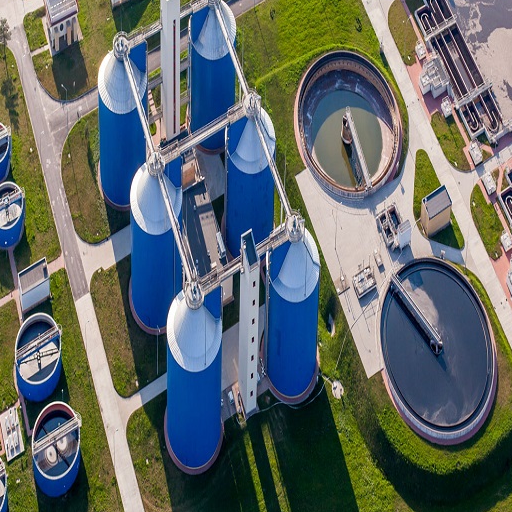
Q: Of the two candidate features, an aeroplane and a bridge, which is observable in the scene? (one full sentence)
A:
The one in the frame is a bridge.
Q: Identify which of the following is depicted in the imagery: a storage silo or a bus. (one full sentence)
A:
The one in the frame is a storage silo.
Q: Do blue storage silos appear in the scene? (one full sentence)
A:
Yes, a blue storage silo appears in the view.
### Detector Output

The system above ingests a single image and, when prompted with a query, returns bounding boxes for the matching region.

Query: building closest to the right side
[416,183,452,240]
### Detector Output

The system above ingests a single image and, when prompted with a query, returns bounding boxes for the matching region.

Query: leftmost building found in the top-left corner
[42,0,82,56]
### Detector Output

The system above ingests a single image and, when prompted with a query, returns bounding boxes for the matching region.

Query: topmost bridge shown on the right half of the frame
[344,100,375,195]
